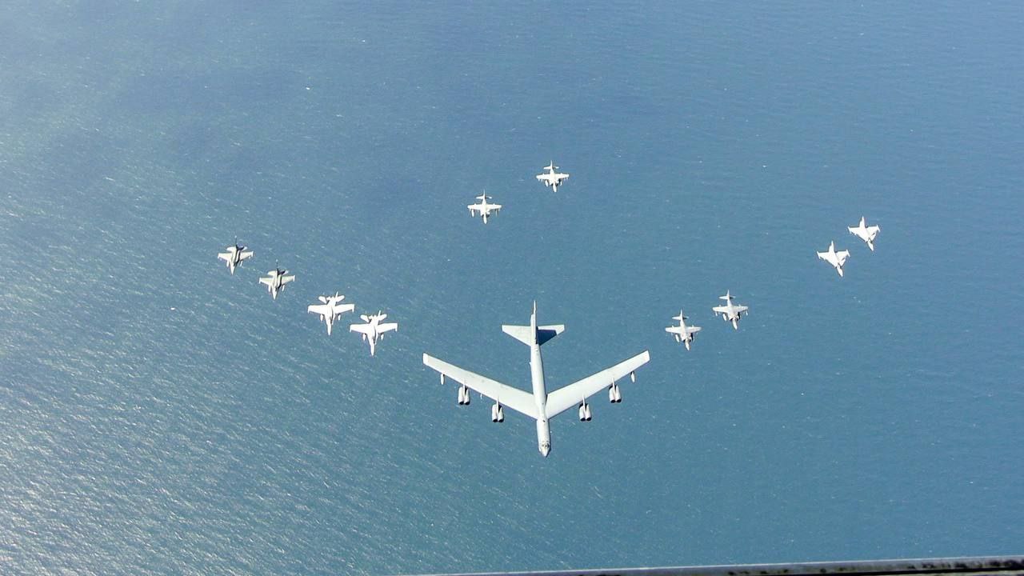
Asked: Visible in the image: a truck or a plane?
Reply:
plane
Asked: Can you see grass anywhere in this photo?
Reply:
No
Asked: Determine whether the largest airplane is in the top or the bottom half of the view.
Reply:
bottom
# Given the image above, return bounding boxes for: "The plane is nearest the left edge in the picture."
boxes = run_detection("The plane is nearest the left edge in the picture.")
[218,236,253,274]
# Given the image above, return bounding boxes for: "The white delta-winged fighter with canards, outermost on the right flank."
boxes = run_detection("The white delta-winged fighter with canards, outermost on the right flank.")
[849,216,879,250]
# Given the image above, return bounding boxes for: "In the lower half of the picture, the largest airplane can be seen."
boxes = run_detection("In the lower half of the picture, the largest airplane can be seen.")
[424,300,649,459]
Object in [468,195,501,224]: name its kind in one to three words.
airplane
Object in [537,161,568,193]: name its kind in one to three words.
airplane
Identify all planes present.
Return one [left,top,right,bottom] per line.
[666,311,701,350]
[849,216,879,250]
[350,309,396,356]
[537,161,568,193]
[308,290,353,335]
[424,300,649,459]
[468,195,501,224]
[218,236,253,274]
[259,260,294,299]
[817,240,849,276]
[713,290,748,329]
